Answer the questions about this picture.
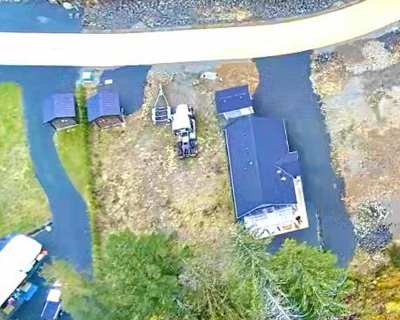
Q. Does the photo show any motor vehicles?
Yes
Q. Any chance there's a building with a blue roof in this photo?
Yes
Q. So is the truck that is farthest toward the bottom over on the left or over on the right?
left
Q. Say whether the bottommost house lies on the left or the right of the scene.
right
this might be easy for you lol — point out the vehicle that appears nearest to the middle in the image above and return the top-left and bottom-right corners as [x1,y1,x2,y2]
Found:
[179,101,205,160]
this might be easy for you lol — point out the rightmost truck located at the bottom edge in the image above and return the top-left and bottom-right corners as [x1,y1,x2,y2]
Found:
[33,284,68,320]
